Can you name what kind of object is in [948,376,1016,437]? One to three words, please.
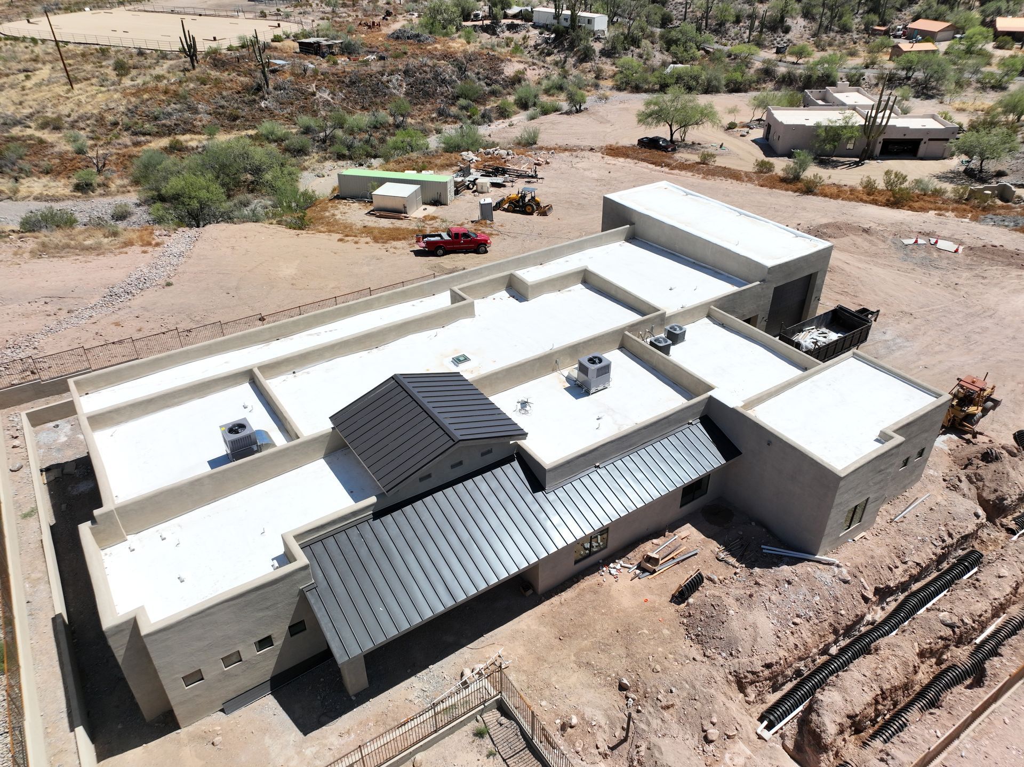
work vehicle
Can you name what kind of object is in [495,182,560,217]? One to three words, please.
work vehicle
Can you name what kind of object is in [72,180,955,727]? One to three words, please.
house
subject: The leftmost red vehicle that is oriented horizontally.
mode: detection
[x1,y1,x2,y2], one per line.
[419,228,494,256]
